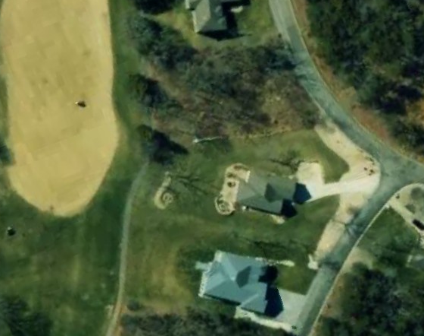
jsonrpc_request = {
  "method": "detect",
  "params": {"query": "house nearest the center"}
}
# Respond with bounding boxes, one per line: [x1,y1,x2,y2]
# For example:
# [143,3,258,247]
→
[235,171,300,217]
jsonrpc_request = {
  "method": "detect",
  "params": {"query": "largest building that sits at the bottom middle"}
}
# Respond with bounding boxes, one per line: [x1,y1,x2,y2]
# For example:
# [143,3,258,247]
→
[201,251,272,318]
